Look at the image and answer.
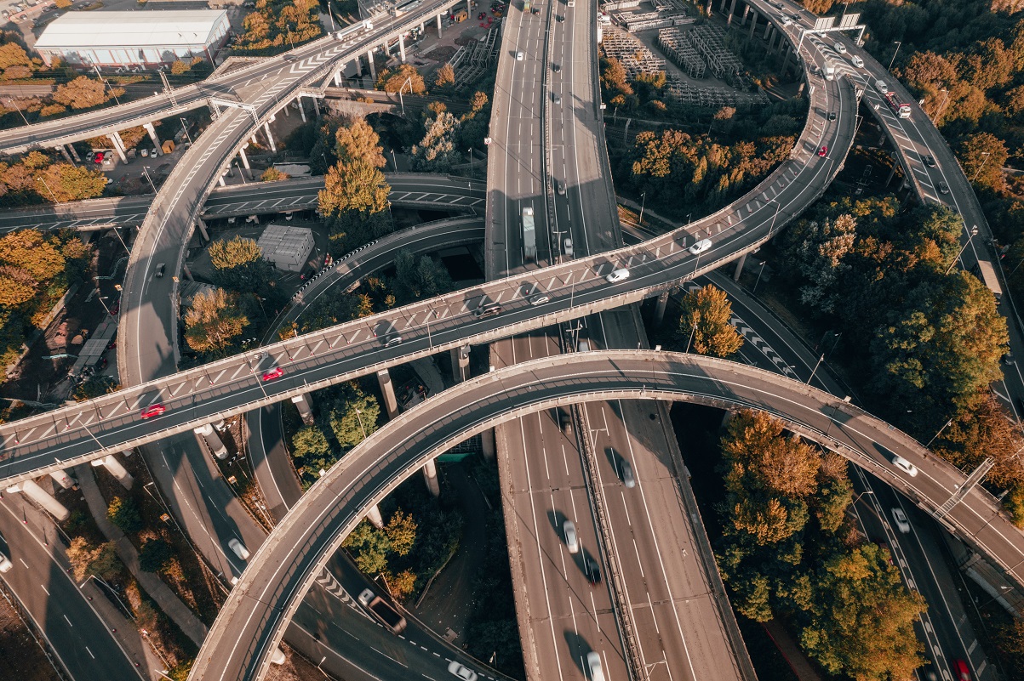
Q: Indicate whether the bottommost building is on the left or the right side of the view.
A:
left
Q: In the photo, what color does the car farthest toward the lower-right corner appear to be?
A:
red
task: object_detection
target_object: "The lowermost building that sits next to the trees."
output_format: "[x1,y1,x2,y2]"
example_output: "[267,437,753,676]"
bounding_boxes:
[253,226,315,276]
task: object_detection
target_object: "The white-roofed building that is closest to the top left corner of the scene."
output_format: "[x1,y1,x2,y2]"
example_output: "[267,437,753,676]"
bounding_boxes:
[37,11,231,63]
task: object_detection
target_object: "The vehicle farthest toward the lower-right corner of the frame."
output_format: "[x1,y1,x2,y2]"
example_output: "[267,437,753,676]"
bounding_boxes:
[952,657,973,681]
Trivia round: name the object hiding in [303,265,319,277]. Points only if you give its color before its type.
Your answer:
black vehicle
